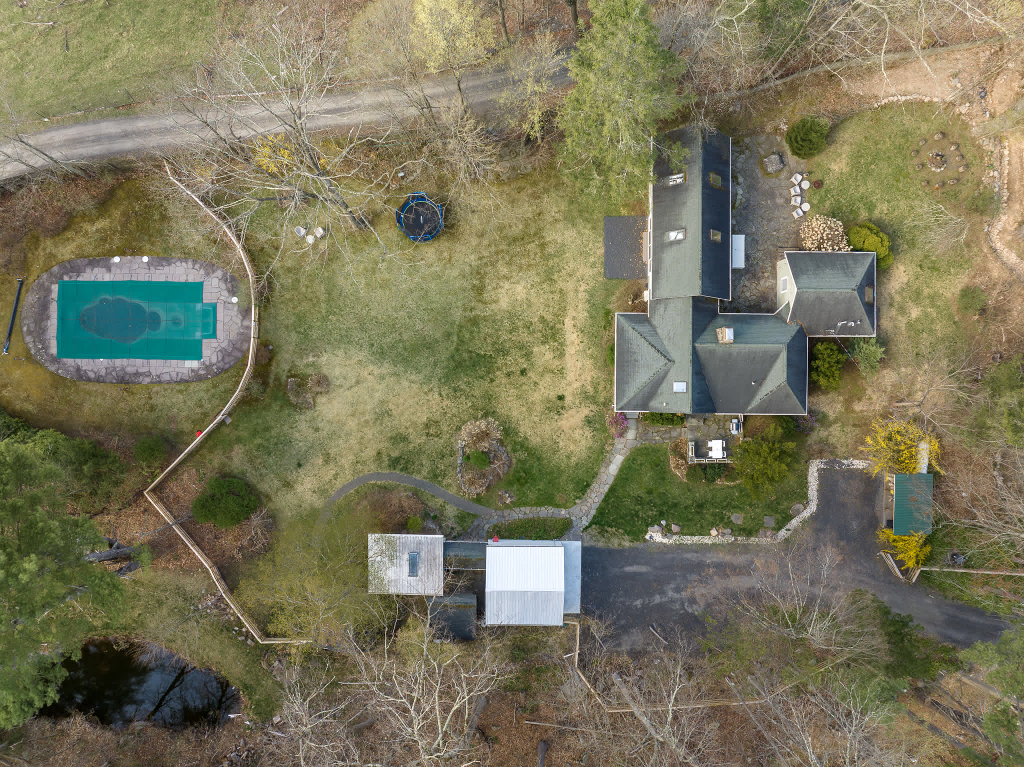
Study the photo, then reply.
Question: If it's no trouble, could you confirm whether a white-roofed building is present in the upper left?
No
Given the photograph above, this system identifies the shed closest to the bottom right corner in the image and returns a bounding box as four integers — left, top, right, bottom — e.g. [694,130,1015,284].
[883,472,934,535]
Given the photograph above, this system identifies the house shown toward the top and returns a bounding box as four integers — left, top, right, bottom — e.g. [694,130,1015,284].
[611,126,877,421]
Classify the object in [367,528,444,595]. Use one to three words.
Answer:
building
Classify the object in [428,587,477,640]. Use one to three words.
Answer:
shed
